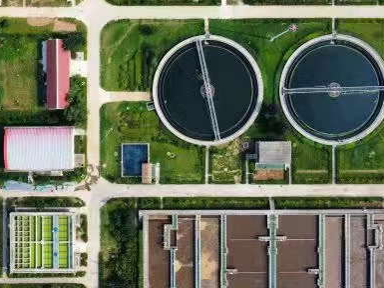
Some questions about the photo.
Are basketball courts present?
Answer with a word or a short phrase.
No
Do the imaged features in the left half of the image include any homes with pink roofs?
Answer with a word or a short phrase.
Yes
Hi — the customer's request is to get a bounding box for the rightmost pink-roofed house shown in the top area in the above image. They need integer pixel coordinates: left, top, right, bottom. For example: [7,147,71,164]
[42,37,83,109]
